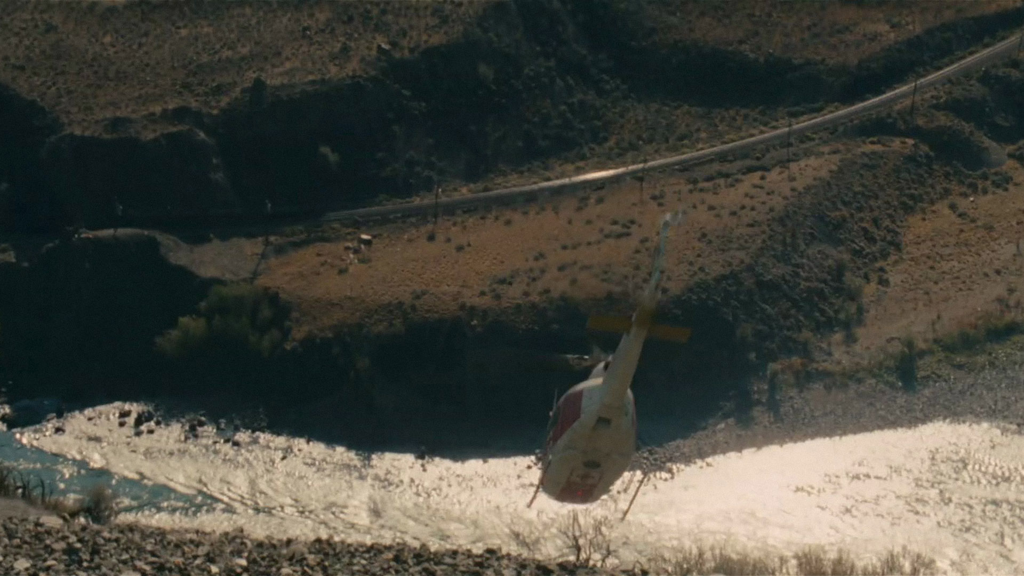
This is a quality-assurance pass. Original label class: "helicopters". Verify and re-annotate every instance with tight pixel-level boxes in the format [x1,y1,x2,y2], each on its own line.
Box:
[341,196,861,518]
